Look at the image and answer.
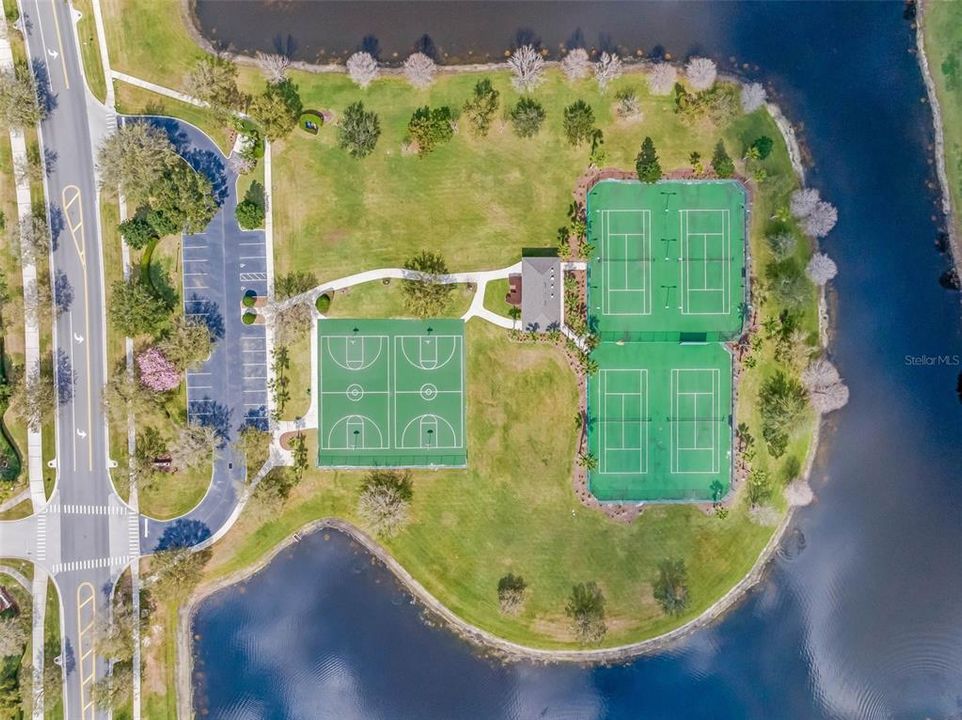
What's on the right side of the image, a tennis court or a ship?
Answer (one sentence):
What appears on the right side of the image is a tennis court.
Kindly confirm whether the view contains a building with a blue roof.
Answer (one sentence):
No, there appears to be no building with a blue roof in this shot.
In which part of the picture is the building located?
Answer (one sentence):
The building appears toward the center of the photo.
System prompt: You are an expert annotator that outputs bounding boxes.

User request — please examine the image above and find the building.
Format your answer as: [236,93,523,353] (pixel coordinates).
[522,257,561,332]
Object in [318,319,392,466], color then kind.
green basketball court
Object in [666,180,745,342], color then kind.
green tennis court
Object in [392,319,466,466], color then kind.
green basketball court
